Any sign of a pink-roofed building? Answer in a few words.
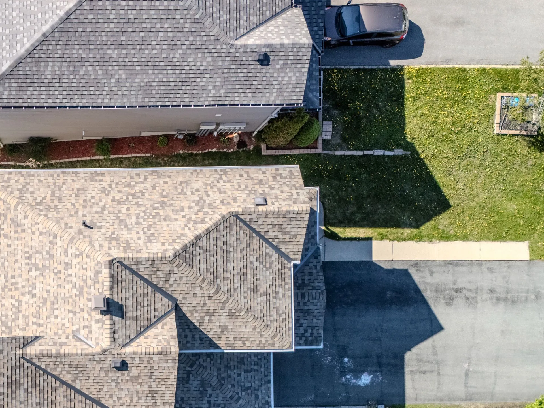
No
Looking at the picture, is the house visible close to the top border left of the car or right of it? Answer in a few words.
to the left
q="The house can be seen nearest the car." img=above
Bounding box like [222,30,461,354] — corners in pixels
[0,0,325,144]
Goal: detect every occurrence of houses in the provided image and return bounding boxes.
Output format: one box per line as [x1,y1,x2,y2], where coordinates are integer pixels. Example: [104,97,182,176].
[0,0,325,144]
[0,163,326,355]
